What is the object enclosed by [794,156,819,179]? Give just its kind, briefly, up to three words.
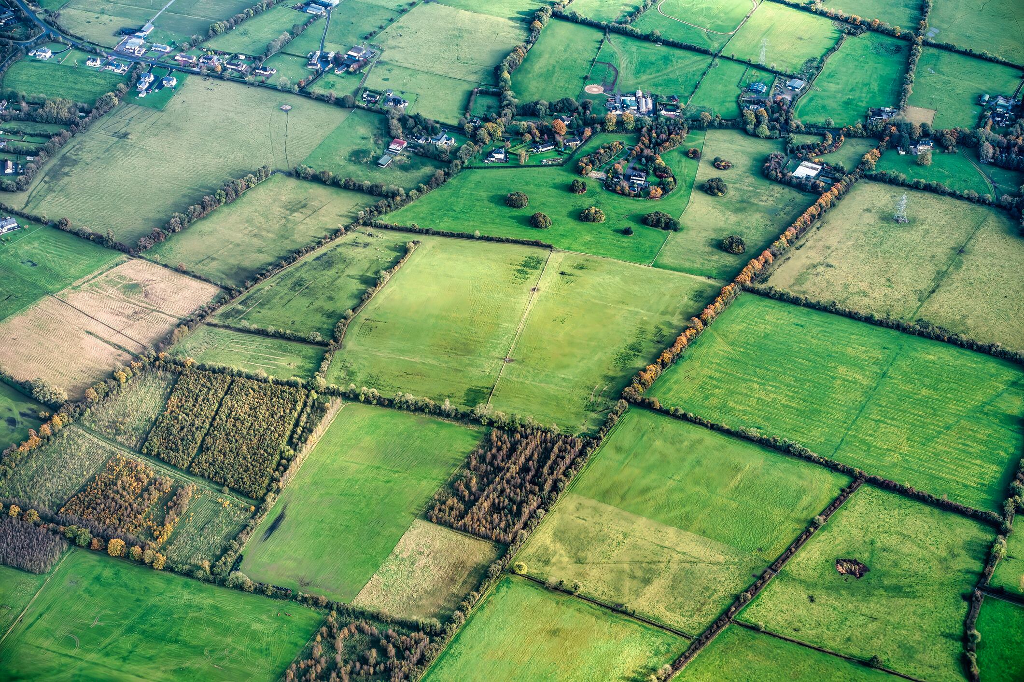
building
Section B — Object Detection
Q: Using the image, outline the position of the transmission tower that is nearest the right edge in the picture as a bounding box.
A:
[894,191,912,225]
